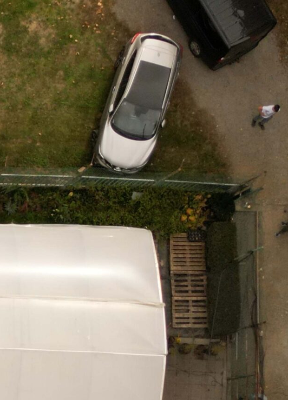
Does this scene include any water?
No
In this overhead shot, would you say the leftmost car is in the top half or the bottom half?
top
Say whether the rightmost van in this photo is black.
Yes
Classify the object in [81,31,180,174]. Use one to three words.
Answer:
car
